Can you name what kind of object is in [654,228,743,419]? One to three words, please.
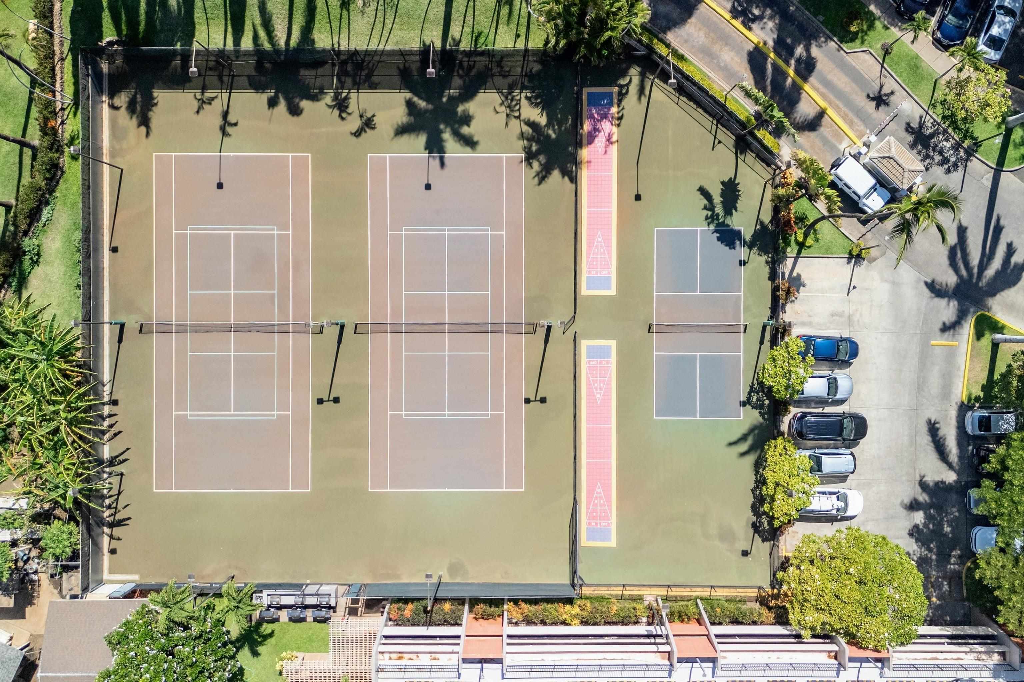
sports court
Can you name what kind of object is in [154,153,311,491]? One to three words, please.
tennis court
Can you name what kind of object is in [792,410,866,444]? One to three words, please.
car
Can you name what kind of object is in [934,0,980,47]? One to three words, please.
car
